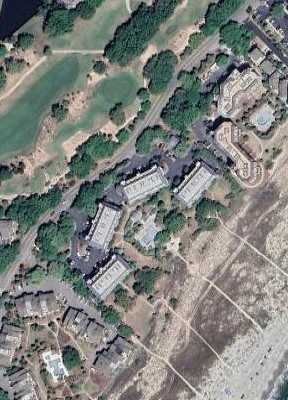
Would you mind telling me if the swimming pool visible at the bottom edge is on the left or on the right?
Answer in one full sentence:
It is on the left.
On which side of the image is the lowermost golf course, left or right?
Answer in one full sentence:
You can find the lowermost golf course on the left side of the picture.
